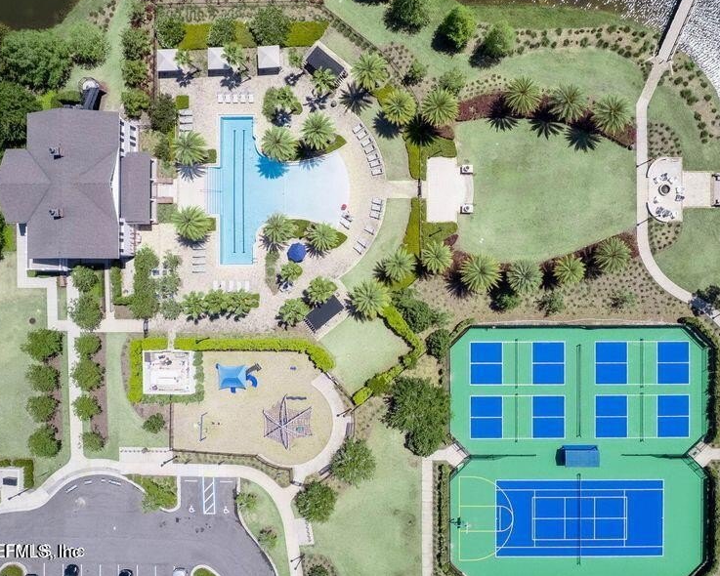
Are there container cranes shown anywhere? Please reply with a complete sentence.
No, the photo shows no container crane.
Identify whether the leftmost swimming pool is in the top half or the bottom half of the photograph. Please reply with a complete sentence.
The top half of the photo is where the leftmost swimming pool is.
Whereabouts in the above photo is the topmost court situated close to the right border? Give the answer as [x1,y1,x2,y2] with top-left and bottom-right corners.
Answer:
[595,337,690,388]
